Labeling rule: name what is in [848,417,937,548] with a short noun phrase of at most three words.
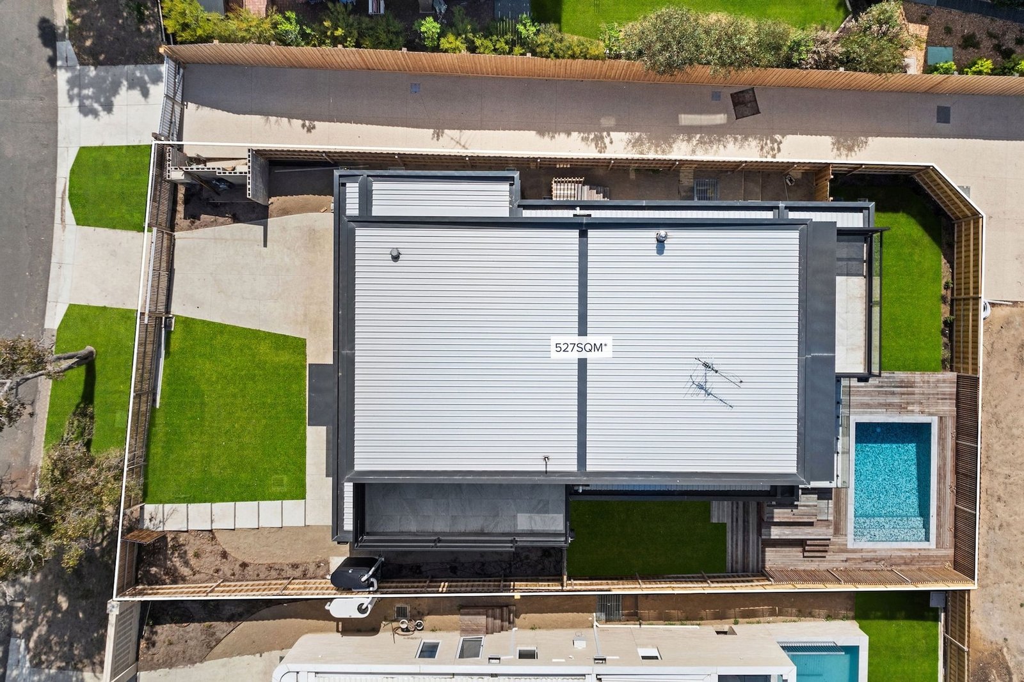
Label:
swimming pool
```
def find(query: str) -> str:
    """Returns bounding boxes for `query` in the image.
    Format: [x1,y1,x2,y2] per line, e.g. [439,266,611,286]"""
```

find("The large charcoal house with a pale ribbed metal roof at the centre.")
[309,171,890,556]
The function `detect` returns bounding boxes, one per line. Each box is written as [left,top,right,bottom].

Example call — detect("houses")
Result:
[277,614,796,682]
[309,171,890,556]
